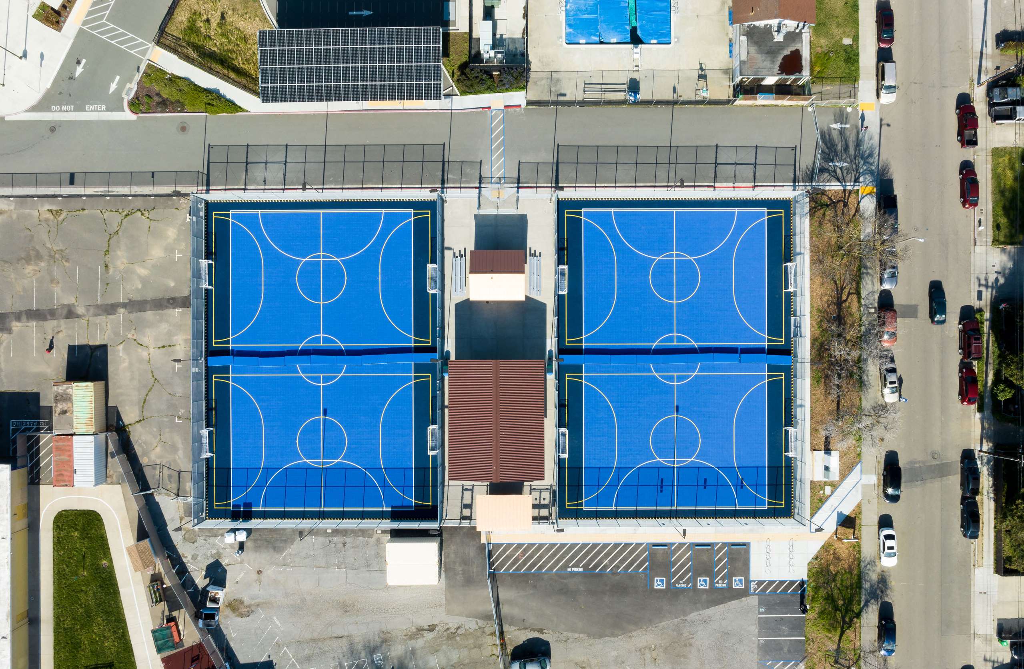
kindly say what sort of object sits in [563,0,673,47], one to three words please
swimming pool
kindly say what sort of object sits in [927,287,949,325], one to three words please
car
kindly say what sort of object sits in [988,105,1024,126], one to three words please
truck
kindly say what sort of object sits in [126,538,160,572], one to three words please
shed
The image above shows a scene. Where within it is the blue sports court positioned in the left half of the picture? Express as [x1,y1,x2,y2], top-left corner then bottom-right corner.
[206,199,445,521]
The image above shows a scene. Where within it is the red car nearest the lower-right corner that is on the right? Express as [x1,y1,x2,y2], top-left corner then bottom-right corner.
[958,368,980,405]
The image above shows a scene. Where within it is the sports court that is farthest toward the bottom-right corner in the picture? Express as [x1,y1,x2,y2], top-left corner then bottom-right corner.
[557,198,794,521]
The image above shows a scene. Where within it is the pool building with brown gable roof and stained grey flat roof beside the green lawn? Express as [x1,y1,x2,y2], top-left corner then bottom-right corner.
[732,0,816,96]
